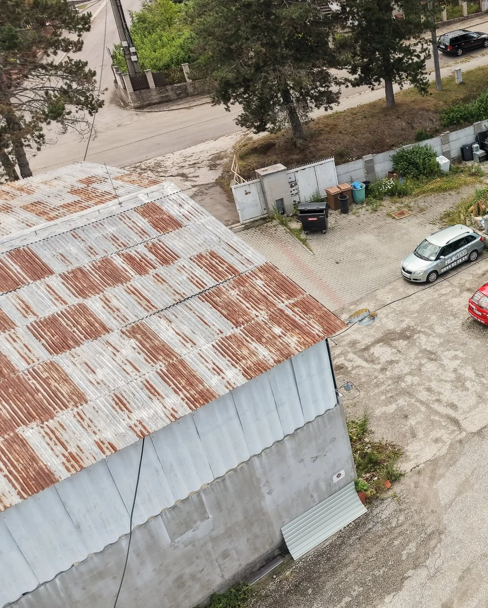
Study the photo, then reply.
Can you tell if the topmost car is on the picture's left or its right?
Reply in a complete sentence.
The topmost car sits on the right side.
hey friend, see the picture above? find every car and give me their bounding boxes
[437,27,488,55]
[464,280,488,326]
[398,222,487,282]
